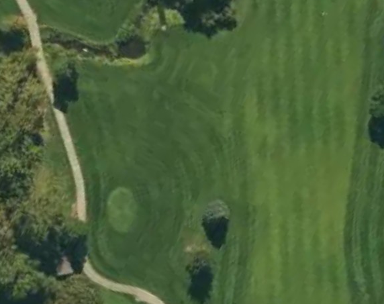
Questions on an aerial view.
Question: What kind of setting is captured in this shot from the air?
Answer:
golf course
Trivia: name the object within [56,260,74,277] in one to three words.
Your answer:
gazebo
